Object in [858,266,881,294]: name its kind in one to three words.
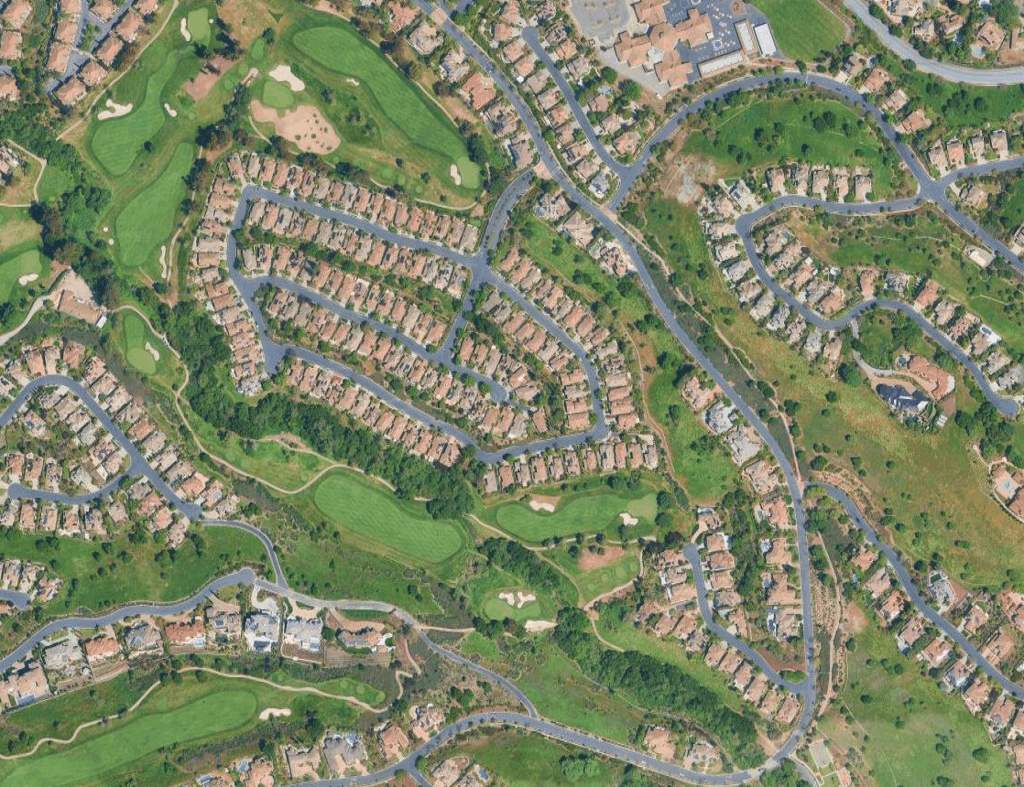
house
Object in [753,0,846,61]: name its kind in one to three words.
sports field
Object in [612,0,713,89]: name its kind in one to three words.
building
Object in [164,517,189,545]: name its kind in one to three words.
house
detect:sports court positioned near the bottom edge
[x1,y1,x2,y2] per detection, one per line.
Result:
[807,740,833,768]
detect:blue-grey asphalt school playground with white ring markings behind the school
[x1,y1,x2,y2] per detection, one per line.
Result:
[660,0,789,87]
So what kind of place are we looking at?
residential area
